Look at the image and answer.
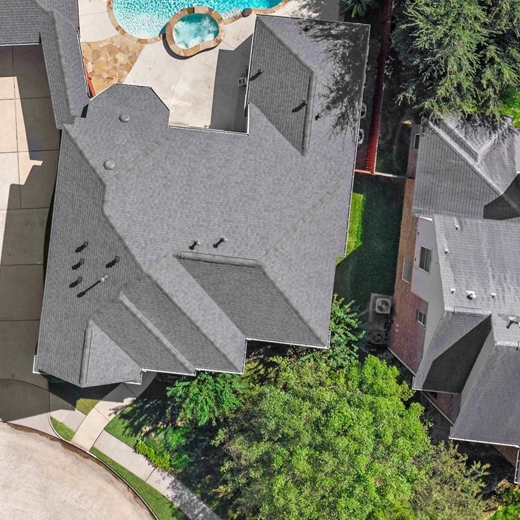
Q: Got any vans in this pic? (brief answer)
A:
No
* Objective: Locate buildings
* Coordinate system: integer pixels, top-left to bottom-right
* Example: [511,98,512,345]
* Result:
[387,115,520,482]
[33,13,373,388]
